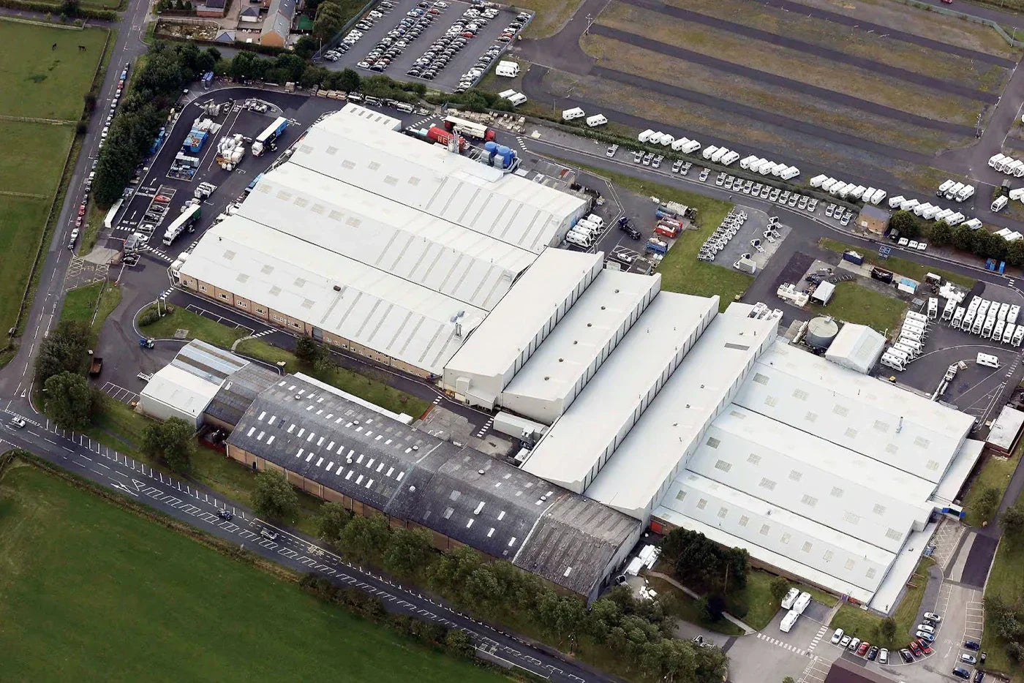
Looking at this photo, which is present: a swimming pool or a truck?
truck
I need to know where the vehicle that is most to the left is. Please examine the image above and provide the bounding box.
[10,415,27,428]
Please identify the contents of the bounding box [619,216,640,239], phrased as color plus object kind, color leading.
black truck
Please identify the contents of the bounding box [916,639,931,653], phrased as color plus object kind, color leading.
red car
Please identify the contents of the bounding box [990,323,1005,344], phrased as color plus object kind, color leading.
white camper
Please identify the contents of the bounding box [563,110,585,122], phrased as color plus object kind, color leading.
white vehicle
